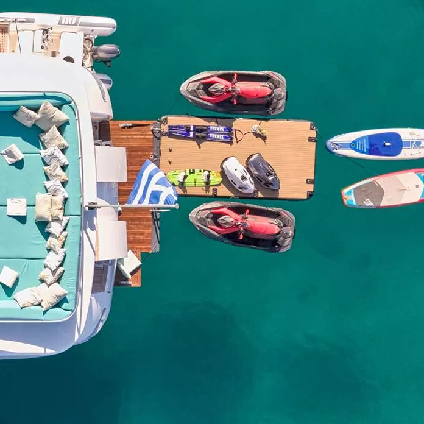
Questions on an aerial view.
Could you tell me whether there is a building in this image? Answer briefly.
No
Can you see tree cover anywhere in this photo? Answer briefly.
No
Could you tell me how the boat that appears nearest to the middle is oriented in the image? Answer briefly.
from left to right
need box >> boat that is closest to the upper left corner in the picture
[0,11,121,89]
